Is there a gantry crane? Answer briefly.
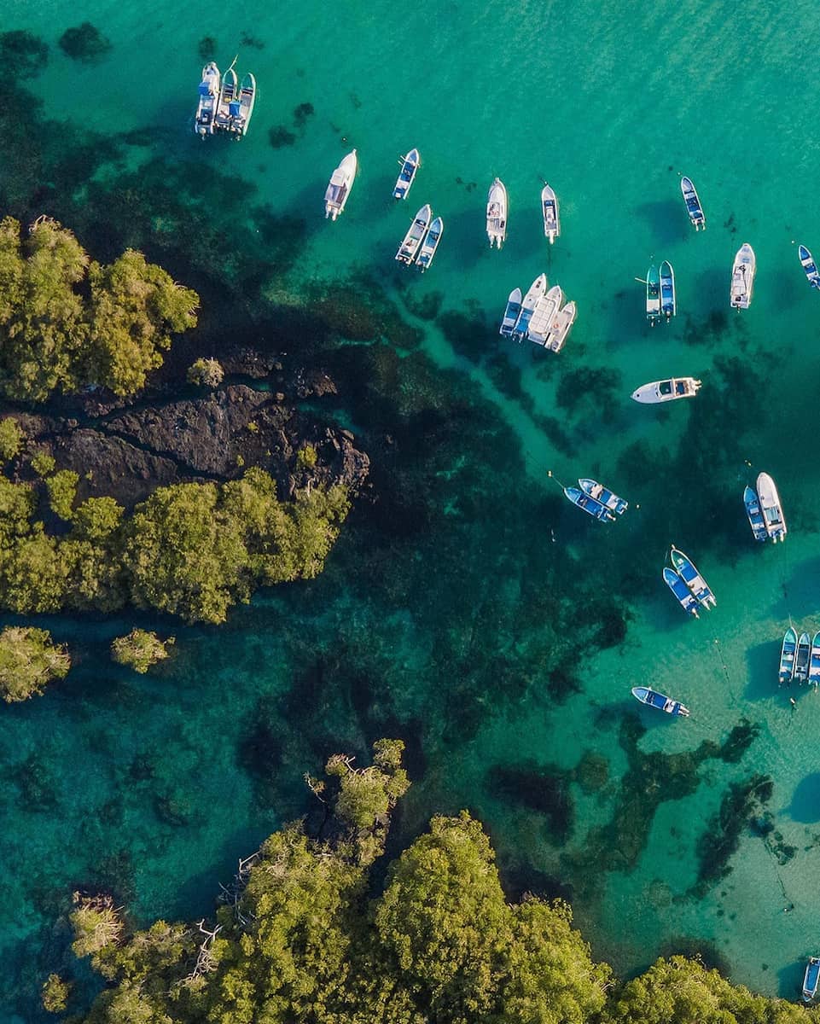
No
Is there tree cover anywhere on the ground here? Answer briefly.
Yes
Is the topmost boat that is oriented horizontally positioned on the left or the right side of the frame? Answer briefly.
right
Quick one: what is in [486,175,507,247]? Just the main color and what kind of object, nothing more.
white boat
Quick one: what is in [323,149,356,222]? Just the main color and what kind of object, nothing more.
white boat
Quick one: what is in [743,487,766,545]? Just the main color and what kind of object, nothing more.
blue boat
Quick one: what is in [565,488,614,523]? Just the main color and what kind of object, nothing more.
blue boat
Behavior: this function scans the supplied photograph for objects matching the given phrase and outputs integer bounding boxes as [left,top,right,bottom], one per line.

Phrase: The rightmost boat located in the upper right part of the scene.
[798,246,820,295]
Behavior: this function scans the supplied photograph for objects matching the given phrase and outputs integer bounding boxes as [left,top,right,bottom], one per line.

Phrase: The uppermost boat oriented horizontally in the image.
[630,376,705,403]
